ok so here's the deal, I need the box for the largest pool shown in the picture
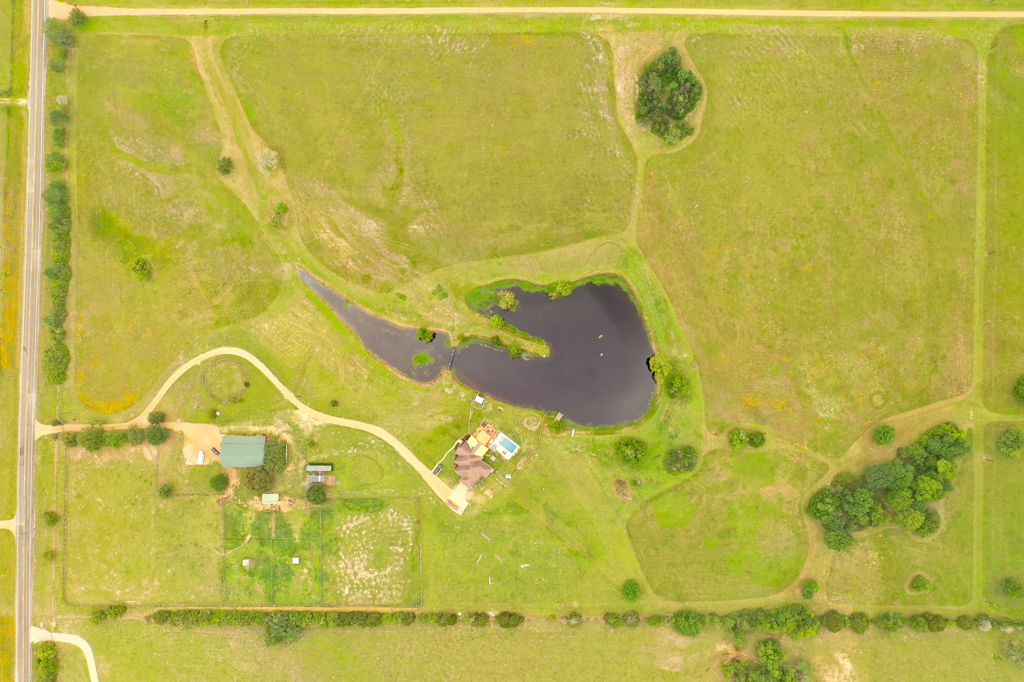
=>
[489,432,520,460]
